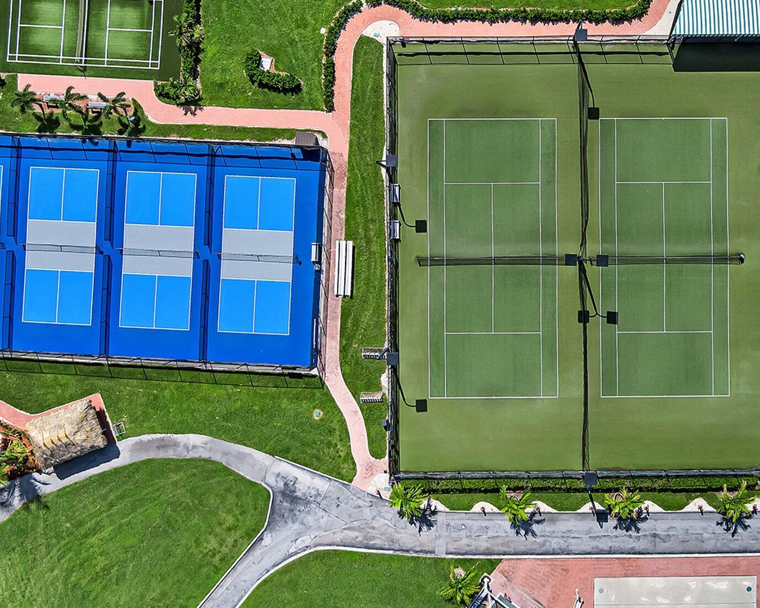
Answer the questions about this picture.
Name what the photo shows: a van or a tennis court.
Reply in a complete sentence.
This aerial view contains a tennis court.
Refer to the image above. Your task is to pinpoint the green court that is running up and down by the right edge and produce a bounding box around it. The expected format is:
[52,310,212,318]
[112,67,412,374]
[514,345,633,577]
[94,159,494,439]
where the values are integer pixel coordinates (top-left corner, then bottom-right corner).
[581,42,760,472]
